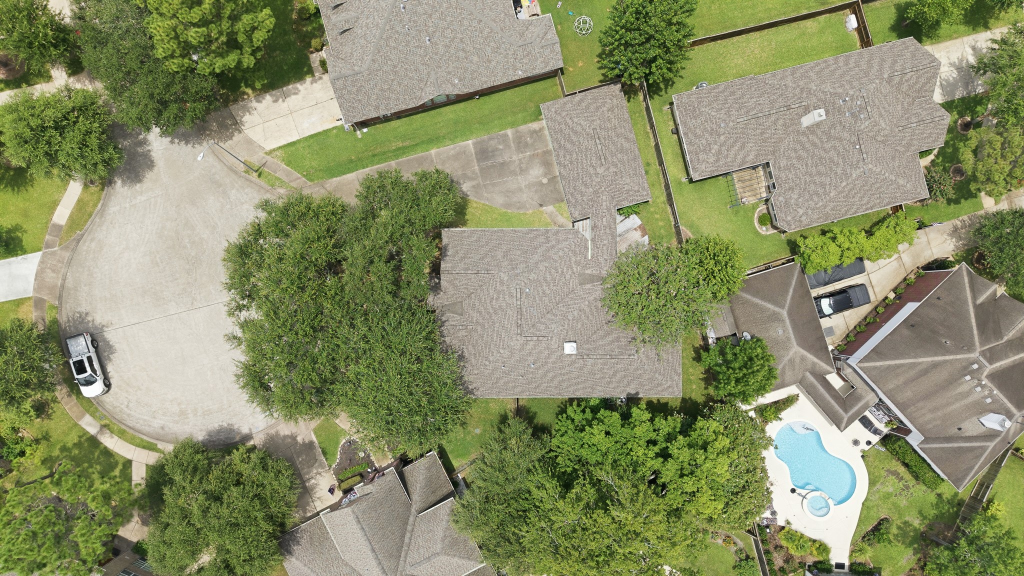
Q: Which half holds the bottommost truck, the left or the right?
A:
left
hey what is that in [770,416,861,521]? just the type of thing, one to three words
swimming pool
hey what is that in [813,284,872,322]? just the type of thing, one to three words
truck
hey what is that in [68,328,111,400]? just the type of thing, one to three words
truck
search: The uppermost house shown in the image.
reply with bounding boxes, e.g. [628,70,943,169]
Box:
[317,0,564,129]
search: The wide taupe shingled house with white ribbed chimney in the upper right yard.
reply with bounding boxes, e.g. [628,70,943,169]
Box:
[671,36,950,233]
